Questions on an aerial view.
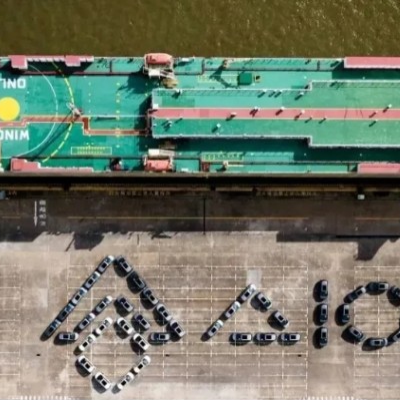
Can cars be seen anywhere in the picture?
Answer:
Yes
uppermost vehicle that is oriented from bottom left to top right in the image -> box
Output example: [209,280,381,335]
[95,255,113,274]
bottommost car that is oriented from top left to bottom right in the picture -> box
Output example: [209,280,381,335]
[95,372,113,391]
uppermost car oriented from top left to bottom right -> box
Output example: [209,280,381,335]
[117,255,135,274]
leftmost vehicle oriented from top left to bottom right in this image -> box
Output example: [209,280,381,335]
[78,355,97,374]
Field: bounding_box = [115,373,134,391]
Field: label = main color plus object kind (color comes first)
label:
white car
